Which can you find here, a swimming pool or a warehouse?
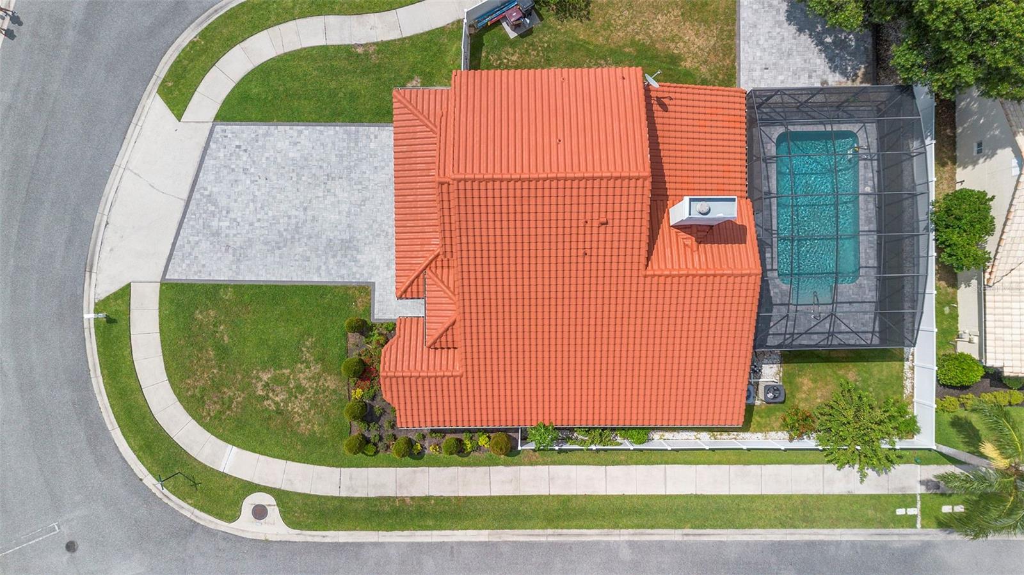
swimming pool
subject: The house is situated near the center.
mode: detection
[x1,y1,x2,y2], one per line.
[379,65,765,429]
